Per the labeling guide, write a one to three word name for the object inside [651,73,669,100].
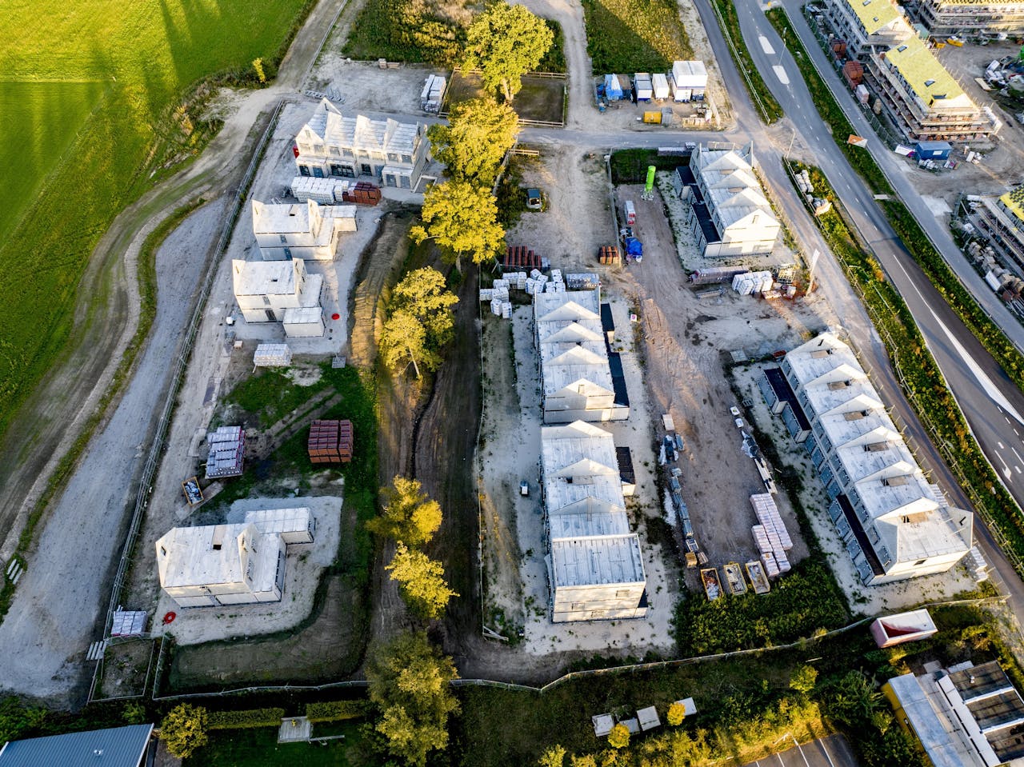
building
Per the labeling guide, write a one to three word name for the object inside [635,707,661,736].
shed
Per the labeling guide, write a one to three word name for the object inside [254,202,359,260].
house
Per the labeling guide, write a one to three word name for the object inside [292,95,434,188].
house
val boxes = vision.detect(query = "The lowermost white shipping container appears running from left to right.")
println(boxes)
[870,611,939,648]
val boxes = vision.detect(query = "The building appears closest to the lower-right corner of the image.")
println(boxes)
[877,662,1024,767]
